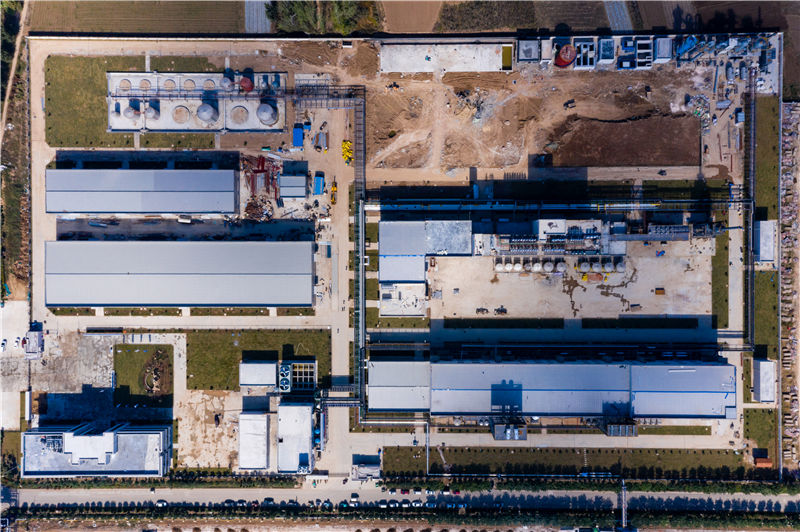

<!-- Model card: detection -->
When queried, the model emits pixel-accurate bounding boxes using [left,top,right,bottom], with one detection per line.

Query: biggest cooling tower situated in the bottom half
[279,363,292,391]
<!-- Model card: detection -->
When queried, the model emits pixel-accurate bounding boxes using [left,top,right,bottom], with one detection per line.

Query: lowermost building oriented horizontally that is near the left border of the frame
[21,416,172,477]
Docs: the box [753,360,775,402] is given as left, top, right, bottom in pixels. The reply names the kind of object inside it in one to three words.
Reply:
shed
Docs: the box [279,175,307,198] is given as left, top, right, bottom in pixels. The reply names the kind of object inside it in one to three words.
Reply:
shed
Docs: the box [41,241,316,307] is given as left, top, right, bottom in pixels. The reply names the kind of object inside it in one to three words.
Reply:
building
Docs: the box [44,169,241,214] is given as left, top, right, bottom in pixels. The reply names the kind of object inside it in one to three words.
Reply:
building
